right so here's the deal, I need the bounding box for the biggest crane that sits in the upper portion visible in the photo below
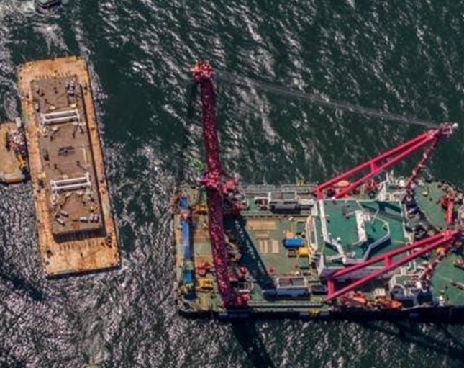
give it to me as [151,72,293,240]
[165,56,460,222]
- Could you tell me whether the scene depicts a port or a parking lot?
port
